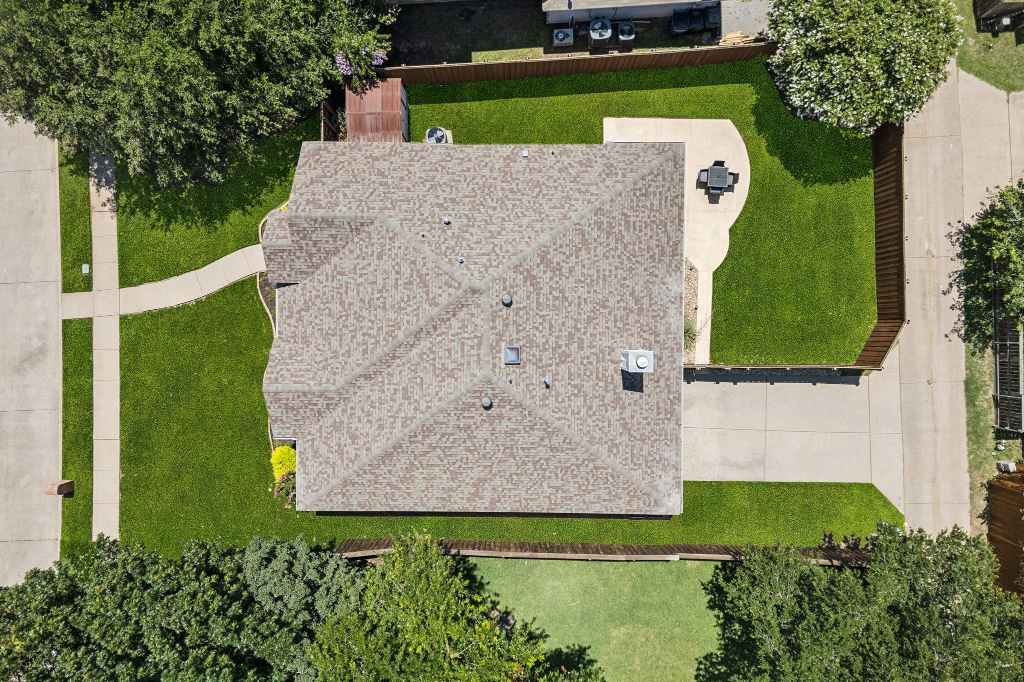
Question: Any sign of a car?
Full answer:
No, the picture doesn't show any car.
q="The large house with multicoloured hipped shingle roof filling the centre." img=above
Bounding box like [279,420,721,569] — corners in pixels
[262,139,687,516]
